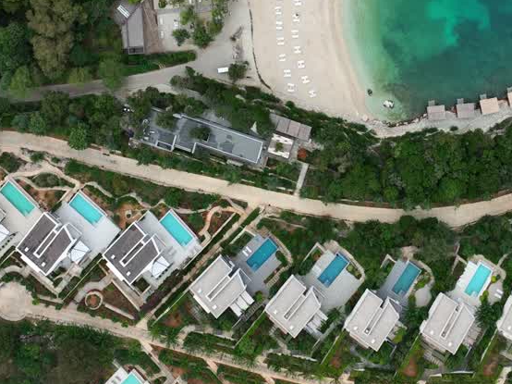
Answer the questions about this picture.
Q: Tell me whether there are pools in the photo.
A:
Yes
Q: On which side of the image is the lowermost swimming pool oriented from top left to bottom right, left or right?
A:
left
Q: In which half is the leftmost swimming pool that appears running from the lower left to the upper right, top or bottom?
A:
bottom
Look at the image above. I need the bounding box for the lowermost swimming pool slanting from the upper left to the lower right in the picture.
[158,212,193,248]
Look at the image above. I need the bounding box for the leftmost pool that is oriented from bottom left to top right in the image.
[245,237,279,274]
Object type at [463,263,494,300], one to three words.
swimming pool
